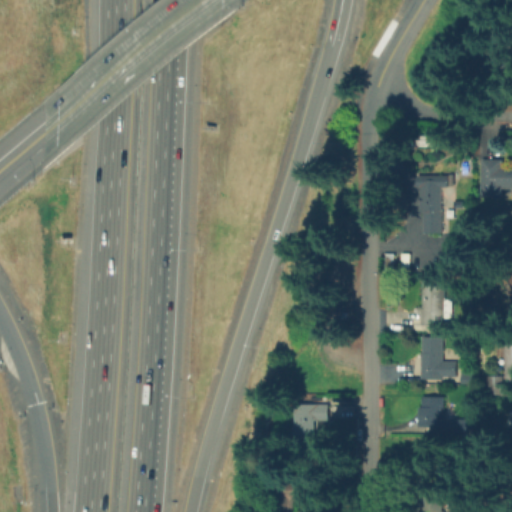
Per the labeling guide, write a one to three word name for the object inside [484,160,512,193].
house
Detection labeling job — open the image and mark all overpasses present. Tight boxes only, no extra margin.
[0,0,250,206]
